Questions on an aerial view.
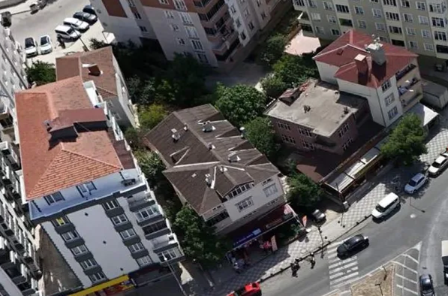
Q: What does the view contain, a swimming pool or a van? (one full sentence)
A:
Visible in the photo is a van.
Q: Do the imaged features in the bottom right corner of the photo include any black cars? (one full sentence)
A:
Yes, a black car appears in the bottom right corner of the photo.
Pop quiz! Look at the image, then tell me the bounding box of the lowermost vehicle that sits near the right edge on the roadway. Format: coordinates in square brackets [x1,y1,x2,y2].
[419,274,435,296]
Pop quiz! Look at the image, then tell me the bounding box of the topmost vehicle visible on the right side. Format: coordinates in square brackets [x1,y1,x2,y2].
[427,154,448,177]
